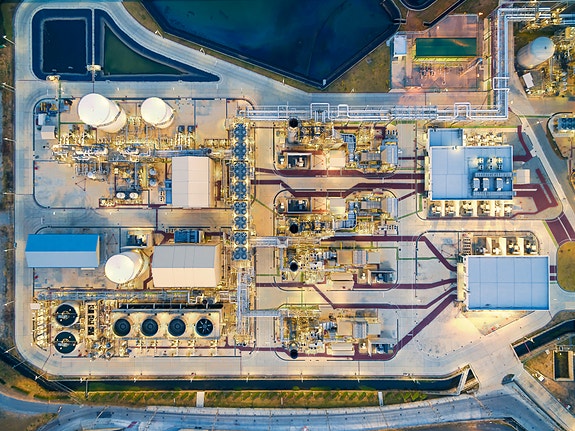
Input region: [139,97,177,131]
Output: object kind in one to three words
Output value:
storage tank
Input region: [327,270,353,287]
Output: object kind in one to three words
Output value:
shed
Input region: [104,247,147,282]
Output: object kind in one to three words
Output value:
storage tank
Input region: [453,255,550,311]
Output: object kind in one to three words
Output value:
building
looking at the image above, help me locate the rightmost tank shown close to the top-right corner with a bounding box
[514,36,556,72]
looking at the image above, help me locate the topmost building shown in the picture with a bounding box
[393,35,407,60]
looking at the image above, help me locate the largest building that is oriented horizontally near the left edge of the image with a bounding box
[21,233,103,267]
